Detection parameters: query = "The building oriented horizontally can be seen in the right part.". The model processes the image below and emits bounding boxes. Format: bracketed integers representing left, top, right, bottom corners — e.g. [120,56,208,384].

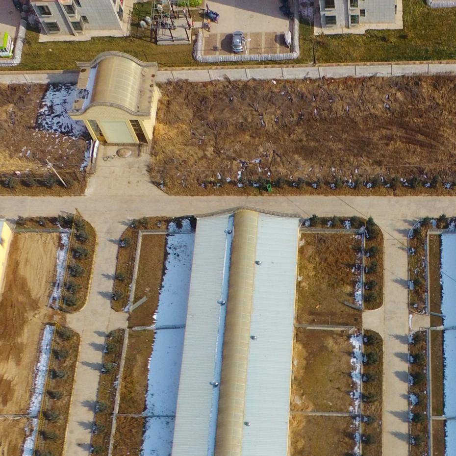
[316,0,408,37]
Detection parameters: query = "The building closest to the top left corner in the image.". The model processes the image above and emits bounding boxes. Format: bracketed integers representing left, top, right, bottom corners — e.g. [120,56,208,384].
[30,0,138,45]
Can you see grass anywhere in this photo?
Yes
